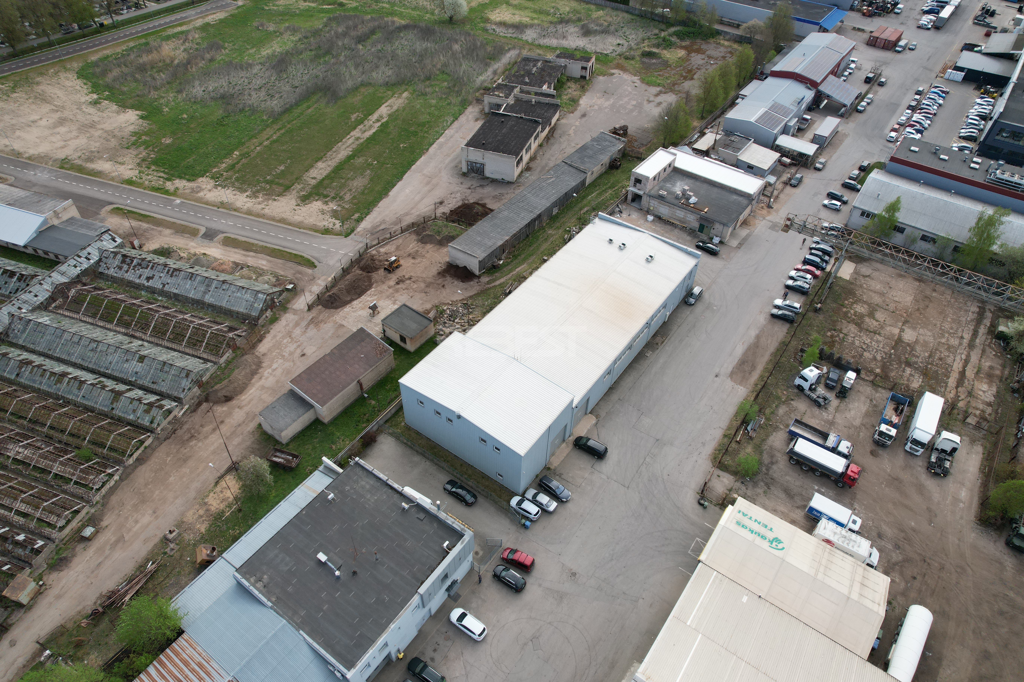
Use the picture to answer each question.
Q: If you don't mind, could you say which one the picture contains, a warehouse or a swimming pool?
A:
warehouse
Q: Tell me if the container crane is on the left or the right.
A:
right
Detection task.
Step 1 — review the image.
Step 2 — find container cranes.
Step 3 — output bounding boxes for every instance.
[778,208,1024,321]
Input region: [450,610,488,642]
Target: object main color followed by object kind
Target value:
white car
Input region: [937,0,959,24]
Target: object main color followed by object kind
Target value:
white truck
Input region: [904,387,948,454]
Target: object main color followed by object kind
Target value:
white truck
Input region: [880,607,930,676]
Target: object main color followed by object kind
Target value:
white trailer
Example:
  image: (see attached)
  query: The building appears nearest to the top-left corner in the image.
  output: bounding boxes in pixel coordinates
[0,181,79,265]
